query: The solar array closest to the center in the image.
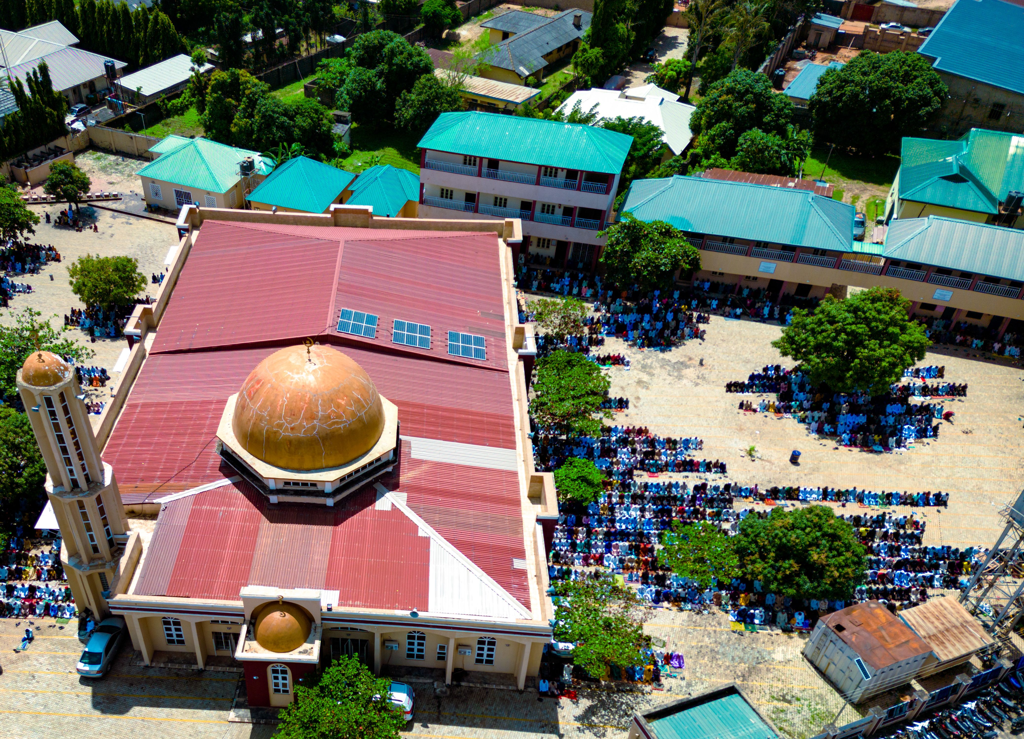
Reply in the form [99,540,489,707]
[445,331,491,360]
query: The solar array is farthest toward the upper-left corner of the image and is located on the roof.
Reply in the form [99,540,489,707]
[334,308,381,338]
